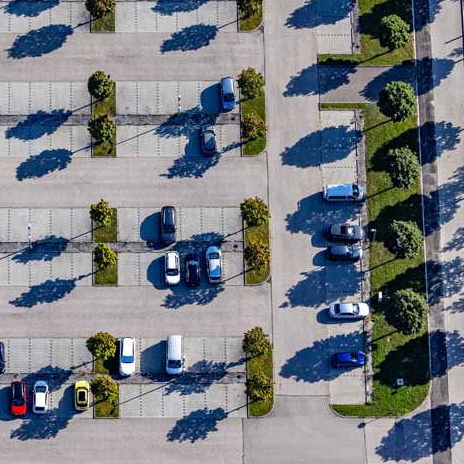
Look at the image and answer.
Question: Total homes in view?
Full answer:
Not a single home can be seen.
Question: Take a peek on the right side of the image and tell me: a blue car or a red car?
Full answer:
The feature located on the right side of the image is a blue car.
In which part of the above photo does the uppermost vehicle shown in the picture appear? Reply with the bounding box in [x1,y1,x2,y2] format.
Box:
[220,79,237,111]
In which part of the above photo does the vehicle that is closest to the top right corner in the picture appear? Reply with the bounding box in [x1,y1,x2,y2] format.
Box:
[324,183,365,203]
